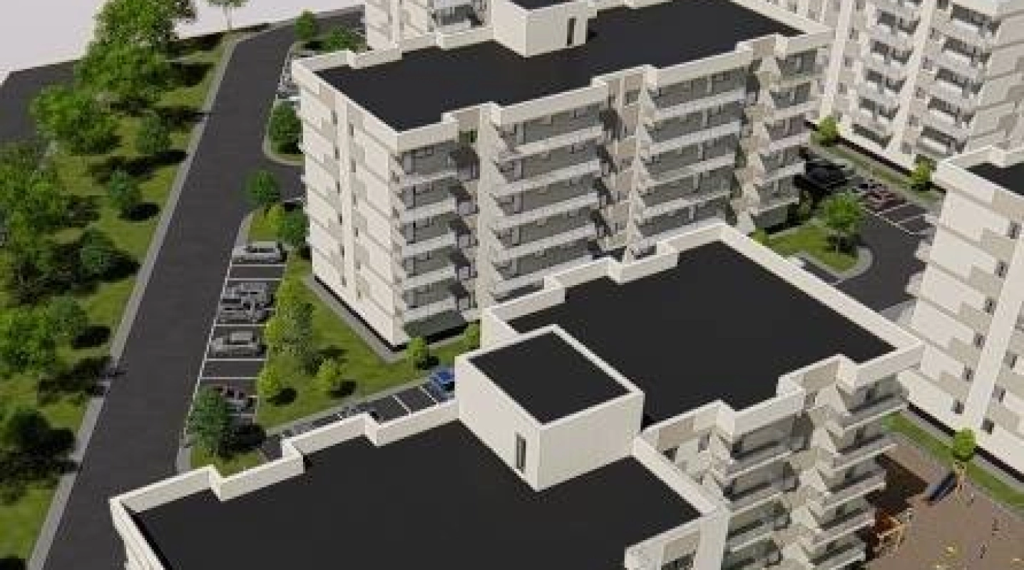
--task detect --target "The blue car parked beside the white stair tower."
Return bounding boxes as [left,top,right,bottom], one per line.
[427,374,460,404]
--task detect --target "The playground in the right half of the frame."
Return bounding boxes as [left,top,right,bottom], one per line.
[850,442,1024,570]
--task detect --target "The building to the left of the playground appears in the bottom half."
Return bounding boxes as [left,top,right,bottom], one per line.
[109,222,926,570]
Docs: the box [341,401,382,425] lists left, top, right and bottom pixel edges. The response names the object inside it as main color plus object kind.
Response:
gray car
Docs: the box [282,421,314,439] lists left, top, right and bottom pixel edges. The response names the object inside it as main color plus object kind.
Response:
gray car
